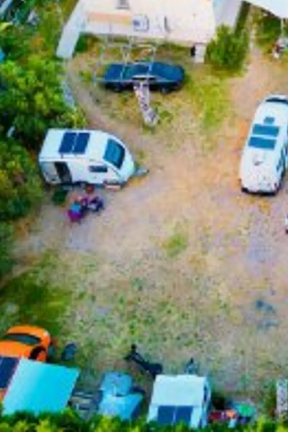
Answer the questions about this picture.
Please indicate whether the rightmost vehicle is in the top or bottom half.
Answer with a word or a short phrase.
top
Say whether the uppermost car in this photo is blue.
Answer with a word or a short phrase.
Yes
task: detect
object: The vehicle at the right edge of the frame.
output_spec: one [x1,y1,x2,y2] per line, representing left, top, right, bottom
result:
[242,97,288,191]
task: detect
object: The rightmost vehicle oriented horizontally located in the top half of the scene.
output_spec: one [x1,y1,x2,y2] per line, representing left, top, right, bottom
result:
[101,62,187,98]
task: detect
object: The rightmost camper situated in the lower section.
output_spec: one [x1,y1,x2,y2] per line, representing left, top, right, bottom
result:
[150,371,219,432]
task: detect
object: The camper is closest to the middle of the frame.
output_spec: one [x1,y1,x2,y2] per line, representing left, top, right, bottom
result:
[40,129,154,184]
